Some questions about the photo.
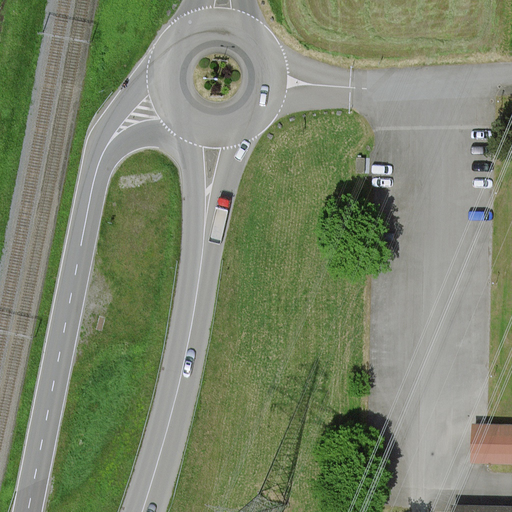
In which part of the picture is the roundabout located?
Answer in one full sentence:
The roundabout sits in the top section of the image.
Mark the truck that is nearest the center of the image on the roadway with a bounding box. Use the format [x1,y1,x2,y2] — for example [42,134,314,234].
[208,199,231,246]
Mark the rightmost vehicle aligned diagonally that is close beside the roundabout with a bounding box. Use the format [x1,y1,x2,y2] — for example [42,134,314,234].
[234,138,251,160]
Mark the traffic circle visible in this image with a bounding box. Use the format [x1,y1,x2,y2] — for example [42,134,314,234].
[146,7,288,149]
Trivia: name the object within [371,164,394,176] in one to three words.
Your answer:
vehicle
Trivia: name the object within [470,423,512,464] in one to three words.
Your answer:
barn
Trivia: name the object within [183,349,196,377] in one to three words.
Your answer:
vehicle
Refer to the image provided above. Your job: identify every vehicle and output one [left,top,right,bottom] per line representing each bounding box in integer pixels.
[208,199,231,246]
[468,209,494,220]
[258,84,270,107]
[372,176,394,188]
[183,349,196,377]
[470,130,492,140]
[371,164,394,176]
[470,145,492,156]
[473,178,494,188]
[472,161,494,172]
[144,502,156,512]
[234,138,251,160]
